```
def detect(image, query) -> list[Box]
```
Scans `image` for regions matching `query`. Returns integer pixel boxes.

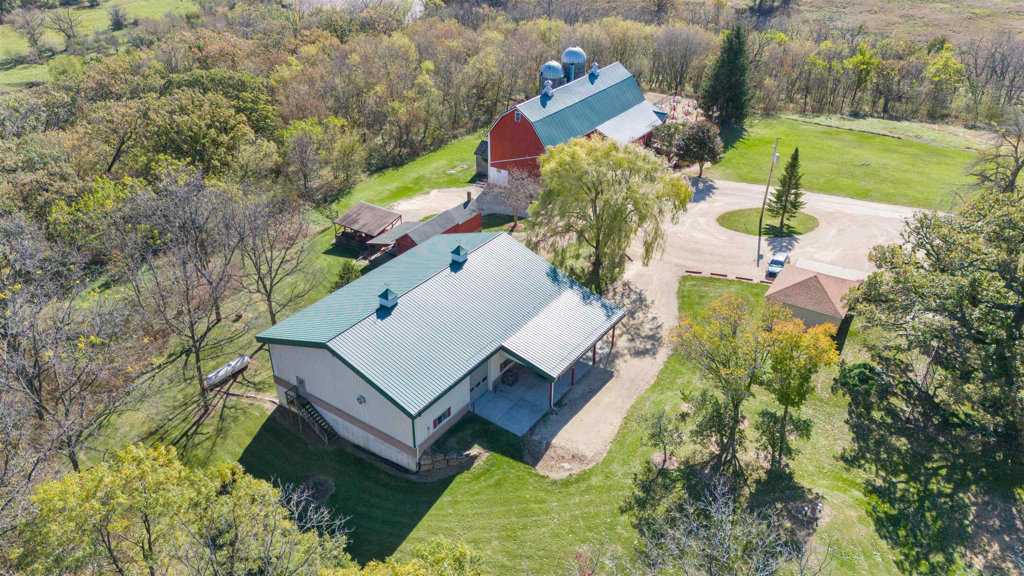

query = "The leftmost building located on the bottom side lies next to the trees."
[257,232,628,472]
